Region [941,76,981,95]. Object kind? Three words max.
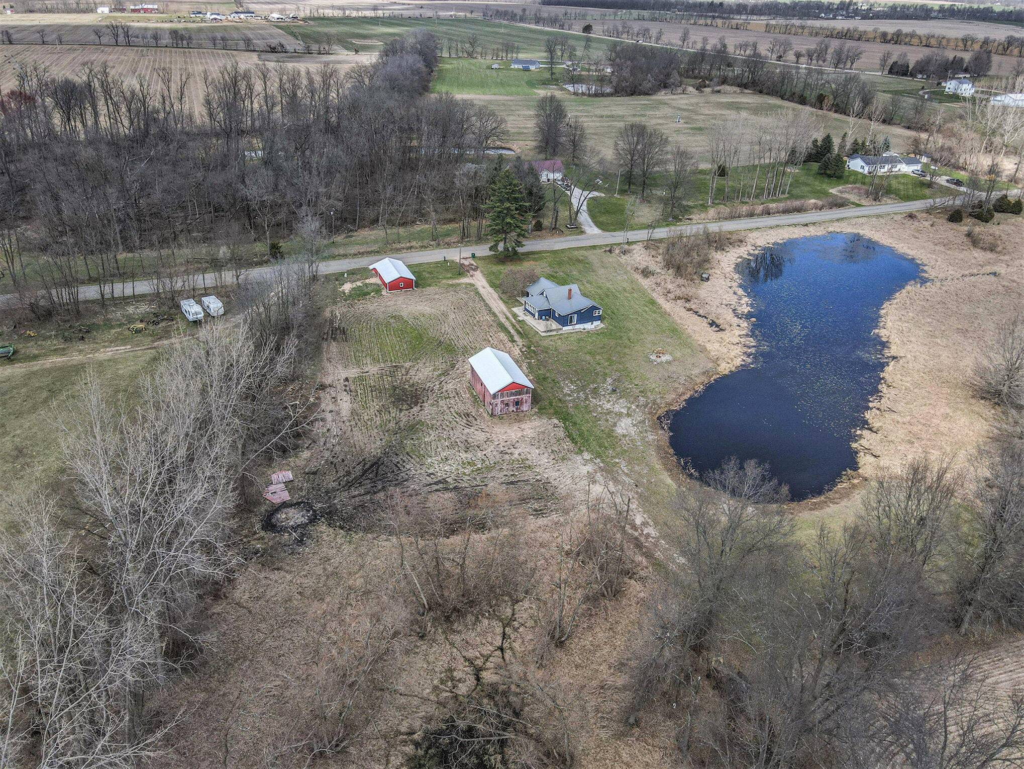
house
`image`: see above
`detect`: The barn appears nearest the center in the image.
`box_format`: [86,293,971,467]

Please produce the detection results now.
[472,347,534,416]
